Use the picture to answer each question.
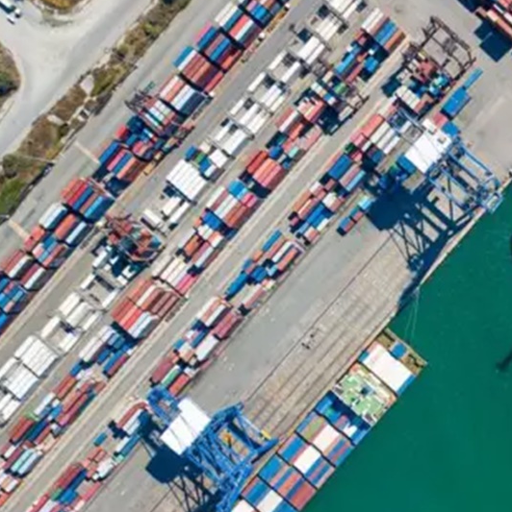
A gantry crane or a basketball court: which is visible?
gantry crane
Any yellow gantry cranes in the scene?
No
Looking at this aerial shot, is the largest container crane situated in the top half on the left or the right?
right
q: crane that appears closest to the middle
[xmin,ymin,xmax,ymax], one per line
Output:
[100,210,174,268]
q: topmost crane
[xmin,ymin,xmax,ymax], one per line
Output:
[409,19,479,90]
